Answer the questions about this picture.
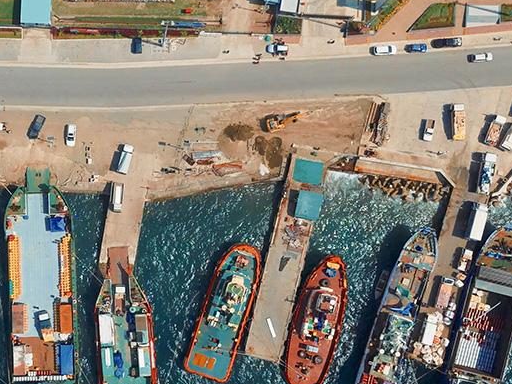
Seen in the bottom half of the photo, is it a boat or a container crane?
boat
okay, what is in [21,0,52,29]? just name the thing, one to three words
building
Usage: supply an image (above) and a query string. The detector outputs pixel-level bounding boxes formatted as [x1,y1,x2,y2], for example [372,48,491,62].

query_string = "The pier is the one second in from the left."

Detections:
[241,147,332,364]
